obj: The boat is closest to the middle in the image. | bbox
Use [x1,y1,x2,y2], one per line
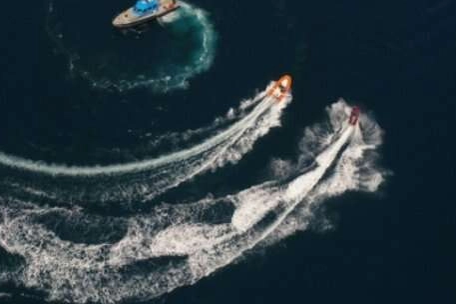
[267,73,290,100]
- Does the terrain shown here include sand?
No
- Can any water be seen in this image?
Yes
